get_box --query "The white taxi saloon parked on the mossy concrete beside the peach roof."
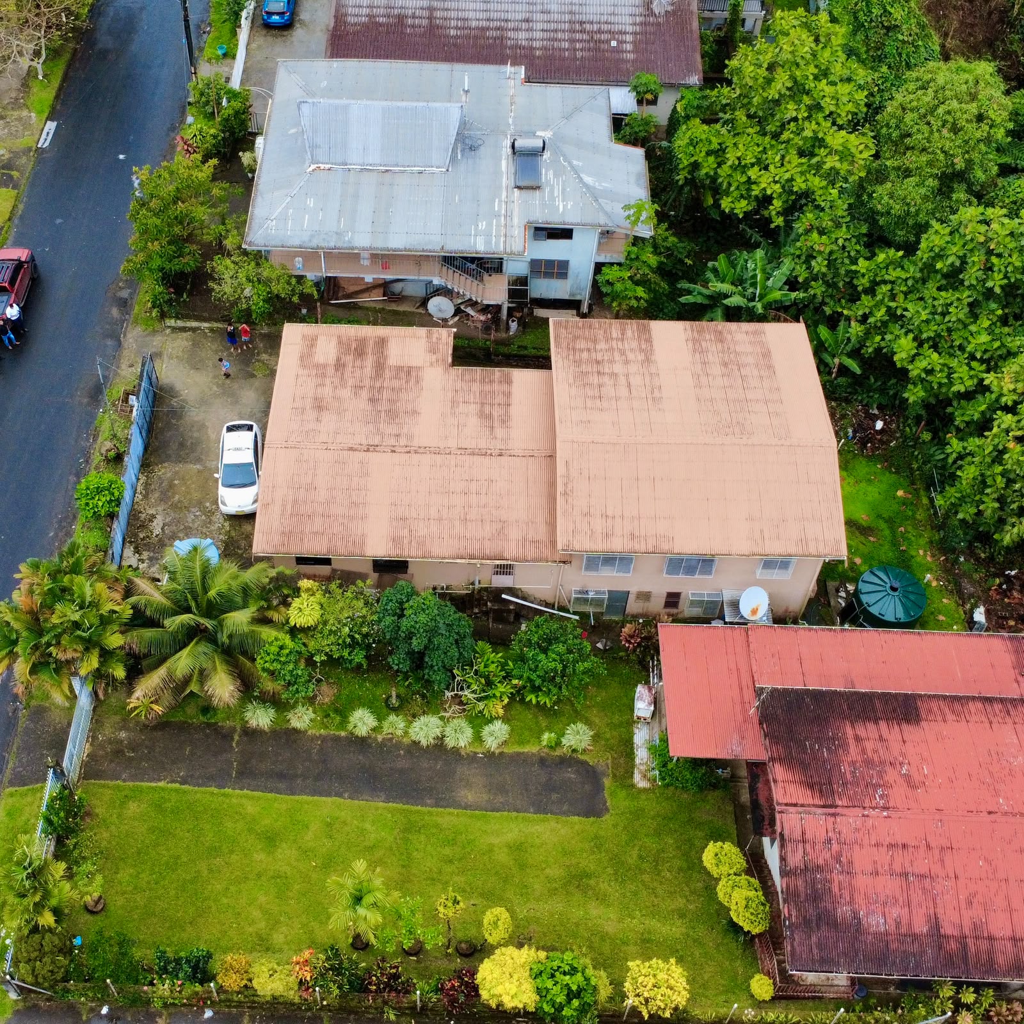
[213,422,264,515]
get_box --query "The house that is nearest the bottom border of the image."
[656,619,1024,995]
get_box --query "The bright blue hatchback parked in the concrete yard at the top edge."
[261,0,296,24]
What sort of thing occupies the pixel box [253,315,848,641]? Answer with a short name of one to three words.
house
